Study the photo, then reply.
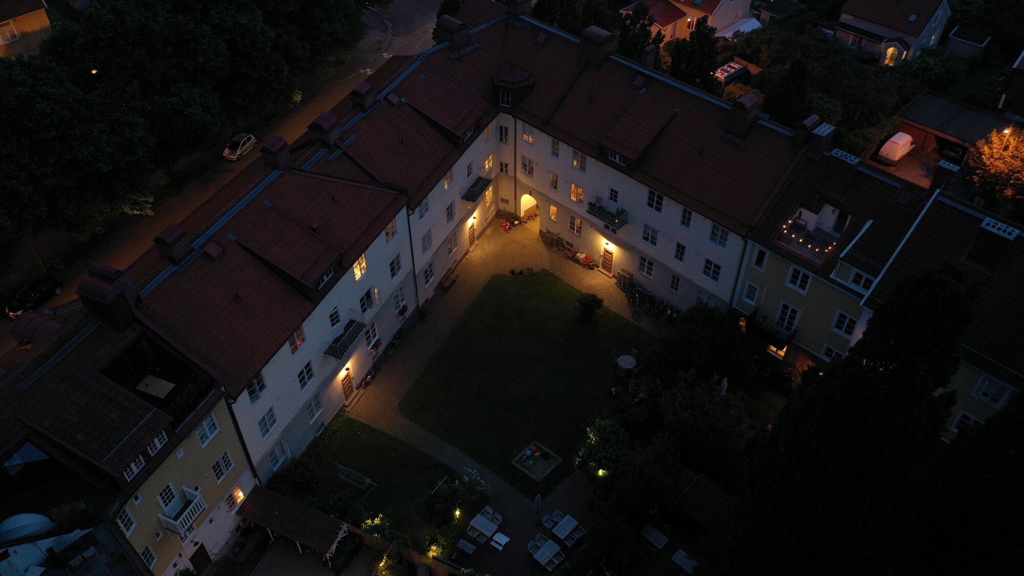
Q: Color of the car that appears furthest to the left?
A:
black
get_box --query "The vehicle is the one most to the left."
[3,269,63,312]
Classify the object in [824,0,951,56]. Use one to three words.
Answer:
house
